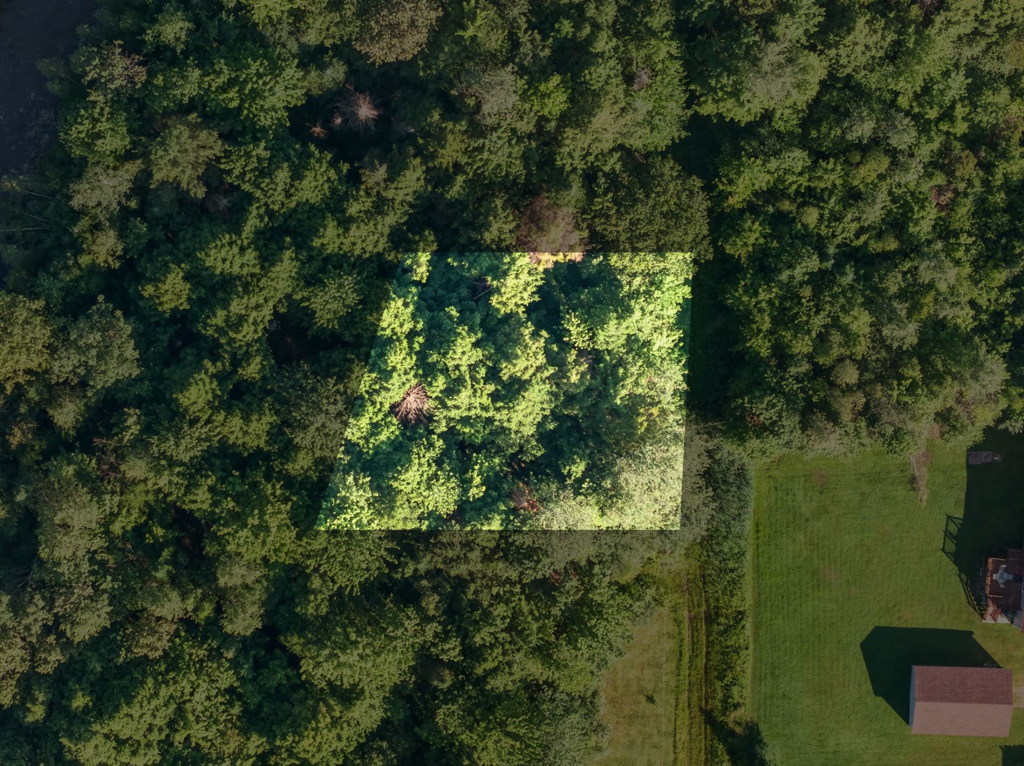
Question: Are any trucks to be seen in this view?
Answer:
No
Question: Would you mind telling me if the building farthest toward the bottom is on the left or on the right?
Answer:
right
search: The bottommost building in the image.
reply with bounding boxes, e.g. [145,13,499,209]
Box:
[908,663,1014,739]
